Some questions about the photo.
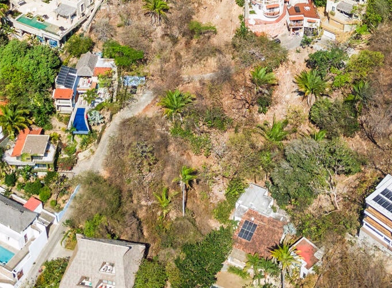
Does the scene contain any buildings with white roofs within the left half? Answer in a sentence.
Yes, there is a building with a white roof within the left half.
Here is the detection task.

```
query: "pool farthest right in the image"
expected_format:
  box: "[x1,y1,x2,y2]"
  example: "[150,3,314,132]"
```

[72,107,90,134]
